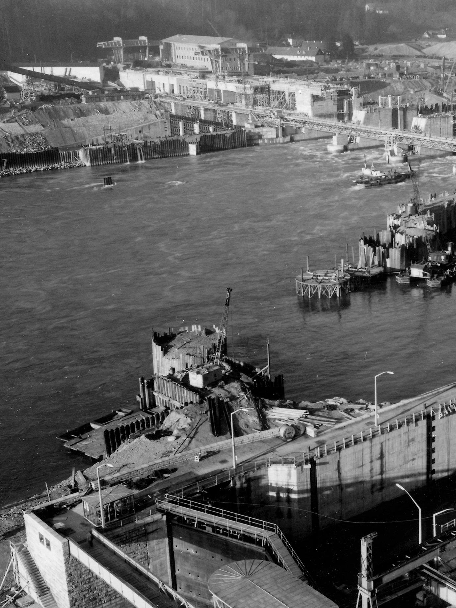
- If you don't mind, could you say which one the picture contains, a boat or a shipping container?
boat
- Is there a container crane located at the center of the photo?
No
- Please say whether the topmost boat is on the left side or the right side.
right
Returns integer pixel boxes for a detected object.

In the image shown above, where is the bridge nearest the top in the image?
[172,97,456,154]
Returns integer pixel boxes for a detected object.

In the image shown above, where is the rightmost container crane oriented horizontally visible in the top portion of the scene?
[188,41,259,74]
